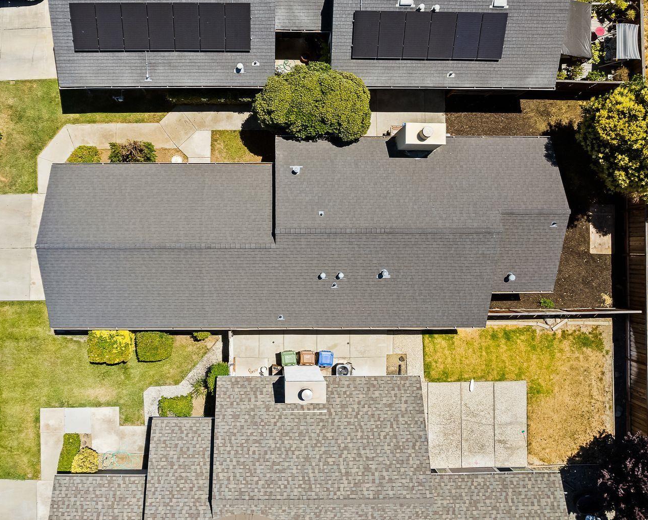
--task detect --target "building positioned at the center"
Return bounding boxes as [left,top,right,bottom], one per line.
[37,123,571,331]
